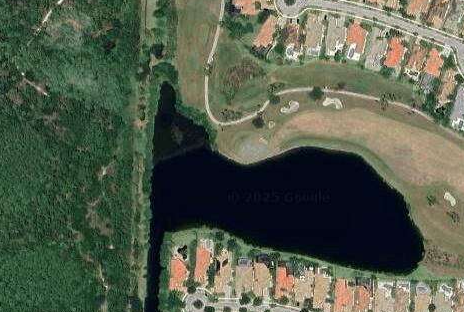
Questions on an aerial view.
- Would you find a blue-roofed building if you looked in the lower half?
No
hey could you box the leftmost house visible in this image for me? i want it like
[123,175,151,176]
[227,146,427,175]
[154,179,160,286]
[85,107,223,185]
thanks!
[166,259,187,290]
